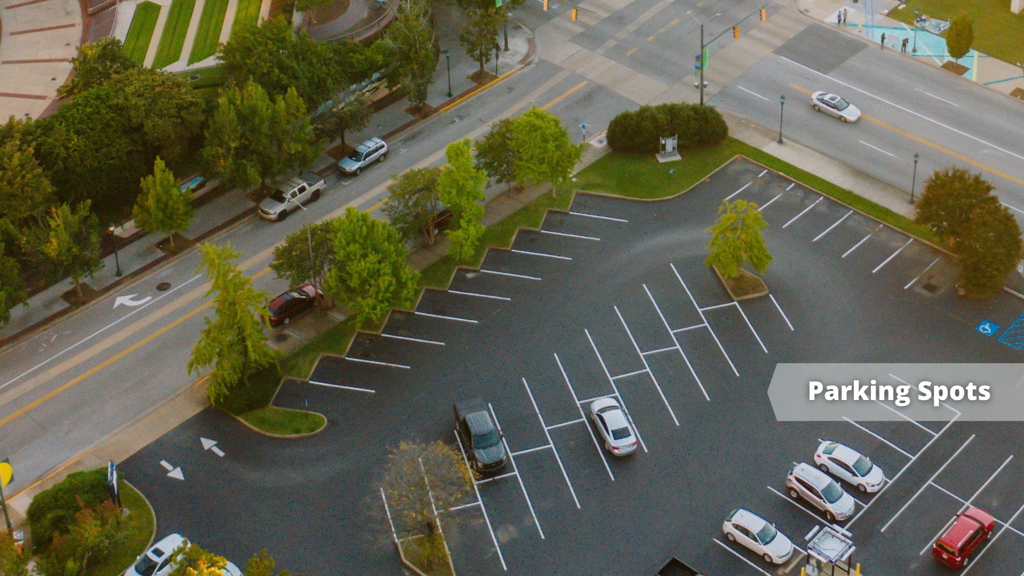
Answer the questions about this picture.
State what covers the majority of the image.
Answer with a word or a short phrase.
paved ground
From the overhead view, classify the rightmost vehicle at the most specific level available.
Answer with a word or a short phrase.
car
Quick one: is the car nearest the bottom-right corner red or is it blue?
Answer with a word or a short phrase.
red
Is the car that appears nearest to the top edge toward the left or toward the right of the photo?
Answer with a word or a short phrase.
right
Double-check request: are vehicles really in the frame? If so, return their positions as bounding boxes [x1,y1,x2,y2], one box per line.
[255,174,326,222]
[807,91,864,124]
[784,466,857,522]
[935,506,1000,568]
[815,443,889,495]
[336,136,390,177]
[455,399,506,470]
[117,536,190,576]
[589,400,634,454]
[260,286,325,326]
[723,510,793,565]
